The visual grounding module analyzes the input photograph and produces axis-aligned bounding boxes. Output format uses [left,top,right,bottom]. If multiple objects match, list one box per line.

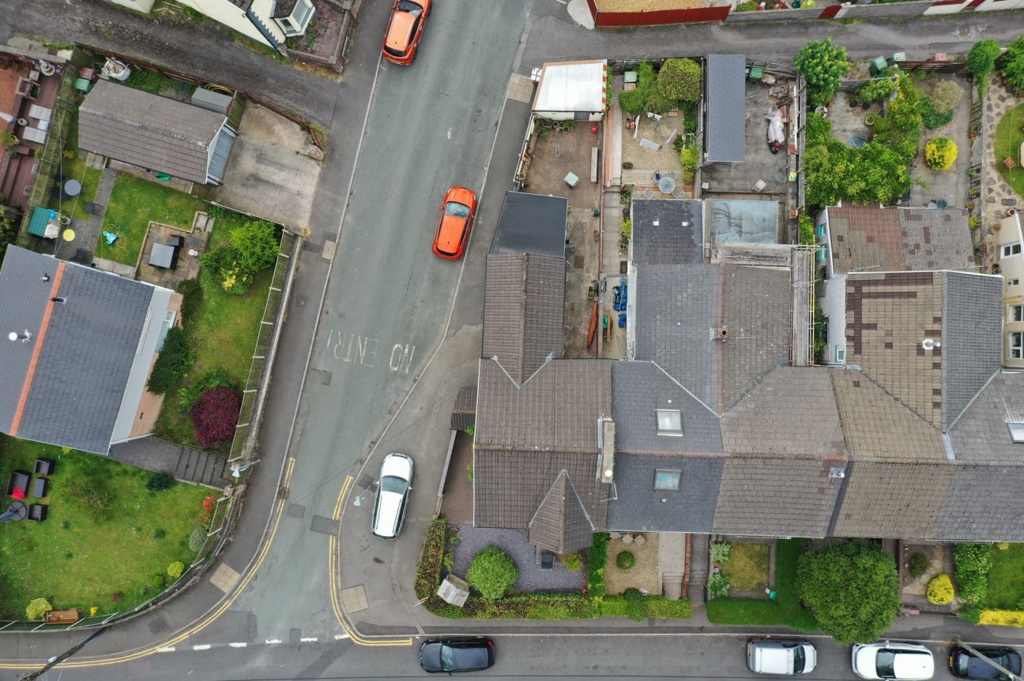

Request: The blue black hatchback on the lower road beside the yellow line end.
[420,634,497,676]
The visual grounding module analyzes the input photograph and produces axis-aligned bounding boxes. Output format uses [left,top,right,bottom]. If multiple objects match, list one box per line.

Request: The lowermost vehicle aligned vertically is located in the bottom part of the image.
[371,453,413,540]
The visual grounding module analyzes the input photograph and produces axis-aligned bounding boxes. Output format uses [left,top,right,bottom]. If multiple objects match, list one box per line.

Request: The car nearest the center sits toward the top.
[431,185,477,262]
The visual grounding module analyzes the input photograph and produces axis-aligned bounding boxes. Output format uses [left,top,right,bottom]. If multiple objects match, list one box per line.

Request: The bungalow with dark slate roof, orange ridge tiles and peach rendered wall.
[0,244,183,456]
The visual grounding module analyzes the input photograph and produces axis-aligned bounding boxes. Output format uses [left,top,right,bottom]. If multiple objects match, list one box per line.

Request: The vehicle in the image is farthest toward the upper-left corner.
[386,0,434,66]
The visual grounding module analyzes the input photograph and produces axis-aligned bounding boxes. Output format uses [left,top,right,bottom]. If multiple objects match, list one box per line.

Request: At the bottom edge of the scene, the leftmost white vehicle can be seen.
[742,636,815,677]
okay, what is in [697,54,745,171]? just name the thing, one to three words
shed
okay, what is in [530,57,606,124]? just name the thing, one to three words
building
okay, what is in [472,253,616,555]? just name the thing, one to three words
house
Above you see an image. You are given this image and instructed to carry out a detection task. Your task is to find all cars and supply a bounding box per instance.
[847,640,934,681]
[371,453,413,540]
[742,636,815,677]
[386,0,434,66]
[944,639,1019,681]
[420,634,497,676]
[431,185,477,262]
